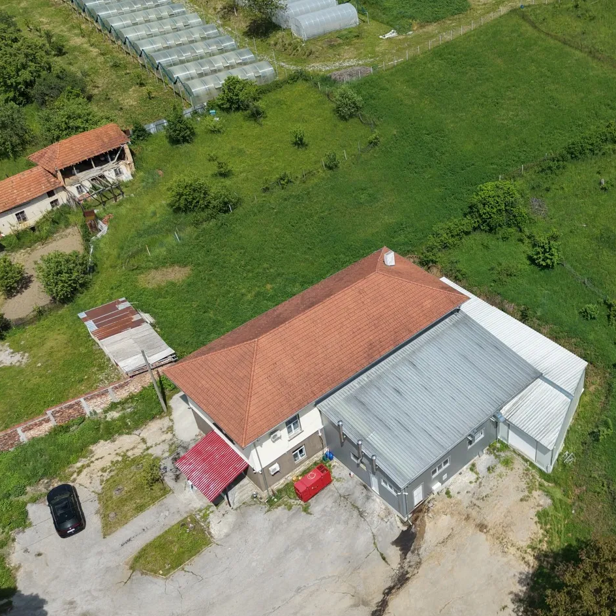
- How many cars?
1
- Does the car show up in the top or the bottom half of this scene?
bottom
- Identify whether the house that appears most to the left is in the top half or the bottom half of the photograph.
top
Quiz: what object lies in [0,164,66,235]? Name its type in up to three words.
house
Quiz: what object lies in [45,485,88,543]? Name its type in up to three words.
car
